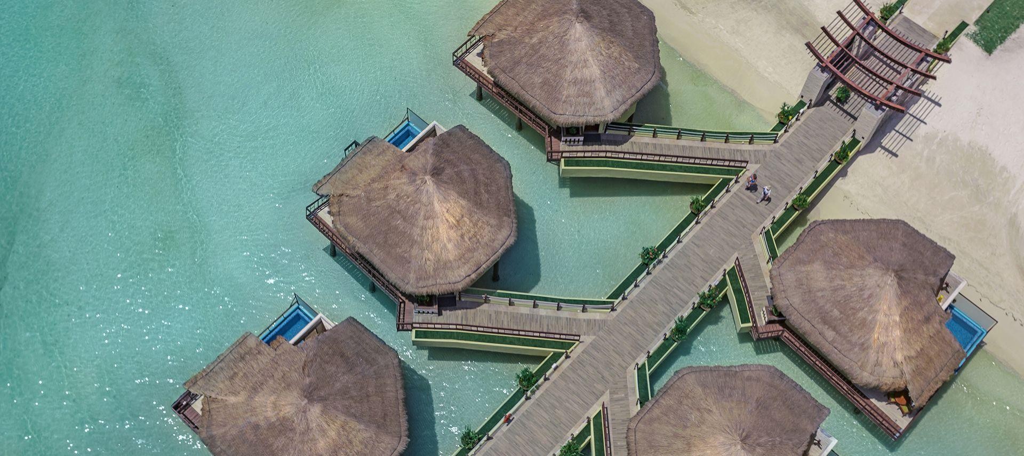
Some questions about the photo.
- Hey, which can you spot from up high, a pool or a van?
pool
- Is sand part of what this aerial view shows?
Yes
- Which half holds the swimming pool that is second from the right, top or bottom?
top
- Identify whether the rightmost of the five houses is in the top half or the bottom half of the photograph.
bottom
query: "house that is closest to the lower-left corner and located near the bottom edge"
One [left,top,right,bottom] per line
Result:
[172,288,411,456]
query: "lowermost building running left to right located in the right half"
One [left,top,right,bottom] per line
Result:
[612,366,837,456]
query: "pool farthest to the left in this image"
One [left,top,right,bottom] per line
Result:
[252,297,317,346]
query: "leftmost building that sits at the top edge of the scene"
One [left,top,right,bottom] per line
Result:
[455,0,662,164]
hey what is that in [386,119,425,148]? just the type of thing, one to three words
swimming pool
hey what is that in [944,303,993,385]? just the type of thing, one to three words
swimming pool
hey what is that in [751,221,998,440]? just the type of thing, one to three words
house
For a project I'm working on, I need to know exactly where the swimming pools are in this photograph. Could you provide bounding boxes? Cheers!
[252,297,317,346]
[944,303,993,385]
[386,119,425,148]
